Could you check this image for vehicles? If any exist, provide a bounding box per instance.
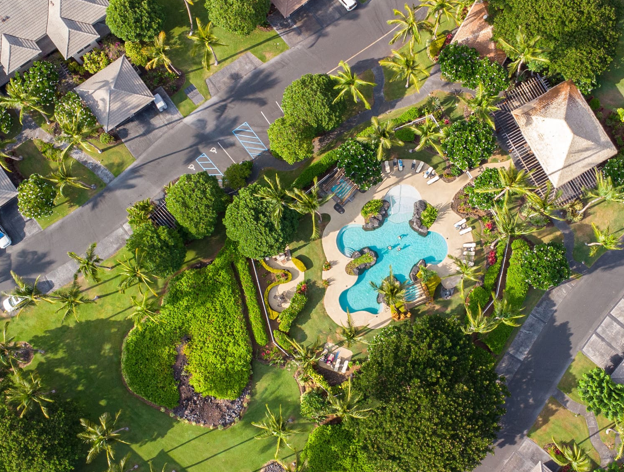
[0,226,10,250]
[340,0,358,13]
[154,95,168,113]
[0,288,32,313]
